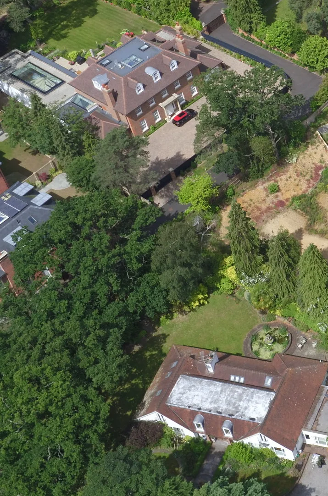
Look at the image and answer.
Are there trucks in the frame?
No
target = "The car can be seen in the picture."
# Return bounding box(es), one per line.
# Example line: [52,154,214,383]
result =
[172,109,198,128]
